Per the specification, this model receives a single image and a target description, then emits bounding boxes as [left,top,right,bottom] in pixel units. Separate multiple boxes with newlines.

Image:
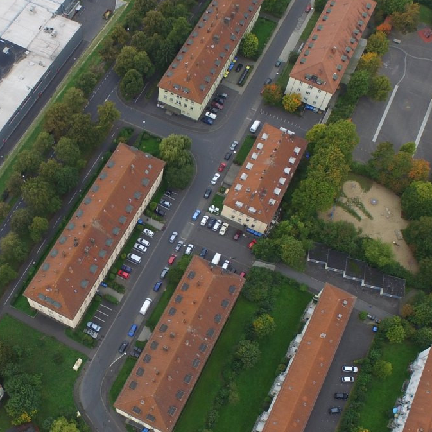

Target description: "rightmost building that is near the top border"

[286,0,377,110]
